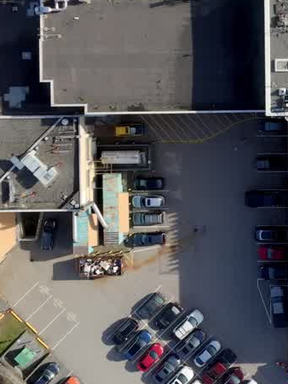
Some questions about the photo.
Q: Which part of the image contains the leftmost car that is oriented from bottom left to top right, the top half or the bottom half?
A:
bottom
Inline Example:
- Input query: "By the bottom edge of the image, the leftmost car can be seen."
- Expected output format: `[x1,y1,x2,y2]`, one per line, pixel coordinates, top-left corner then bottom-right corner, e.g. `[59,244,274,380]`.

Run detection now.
[30,358,60,384]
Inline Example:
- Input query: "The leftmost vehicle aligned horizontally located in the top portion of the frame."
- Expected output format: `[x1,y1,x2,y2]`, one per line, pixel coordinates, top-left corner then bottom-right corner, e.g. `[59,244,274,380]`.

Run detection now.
[113,124,146,139]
